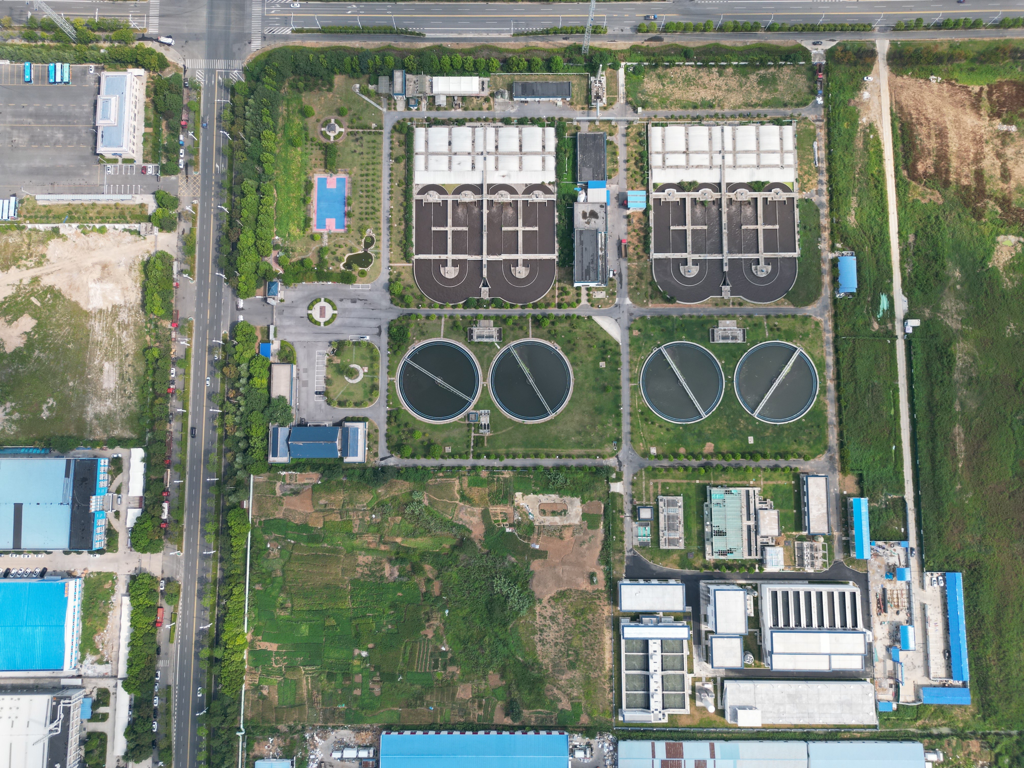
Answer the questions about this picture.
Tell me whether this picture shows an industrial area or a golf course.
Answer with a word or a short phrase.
industrial area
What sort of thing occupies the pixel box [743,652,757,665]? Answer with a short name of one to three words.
cooling tower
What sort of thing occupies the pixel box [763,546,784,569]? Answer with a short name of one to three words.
greenhouse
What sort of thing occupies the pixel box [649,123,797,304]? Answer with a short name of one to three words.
storage tank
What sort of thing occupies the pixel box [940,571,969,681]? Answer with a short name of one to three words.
building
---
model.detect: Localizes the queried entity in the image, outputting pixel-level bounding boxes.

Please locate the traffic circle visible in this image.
[308,297,337,327]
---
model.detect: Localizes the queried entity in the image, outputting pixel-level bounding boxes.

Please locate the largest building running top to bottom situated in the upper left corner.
[97,72,138,159]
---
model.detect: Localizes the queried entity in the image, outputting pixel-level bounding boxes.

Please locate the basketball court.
[313,174,349,232]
